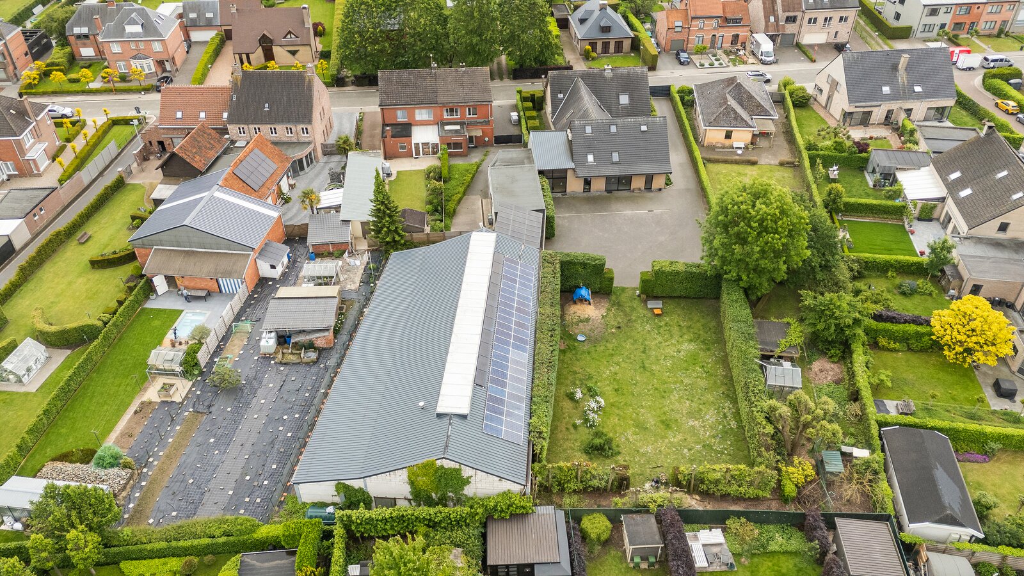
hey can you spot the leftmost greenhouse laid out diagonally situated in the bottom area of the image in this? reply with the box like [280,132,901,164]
[0,336,66,392]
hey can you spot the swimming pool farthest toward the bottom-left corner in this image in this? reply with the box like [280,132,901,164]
[169,309,212,340]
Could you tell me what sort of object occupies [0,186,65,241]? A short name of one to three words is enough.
building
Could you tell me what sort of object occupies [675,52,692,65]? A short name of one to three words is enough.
vehicle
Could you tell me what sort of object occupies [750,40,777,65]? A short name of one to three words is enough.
truck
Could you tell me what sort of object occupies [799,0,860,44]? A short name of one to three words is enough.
house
